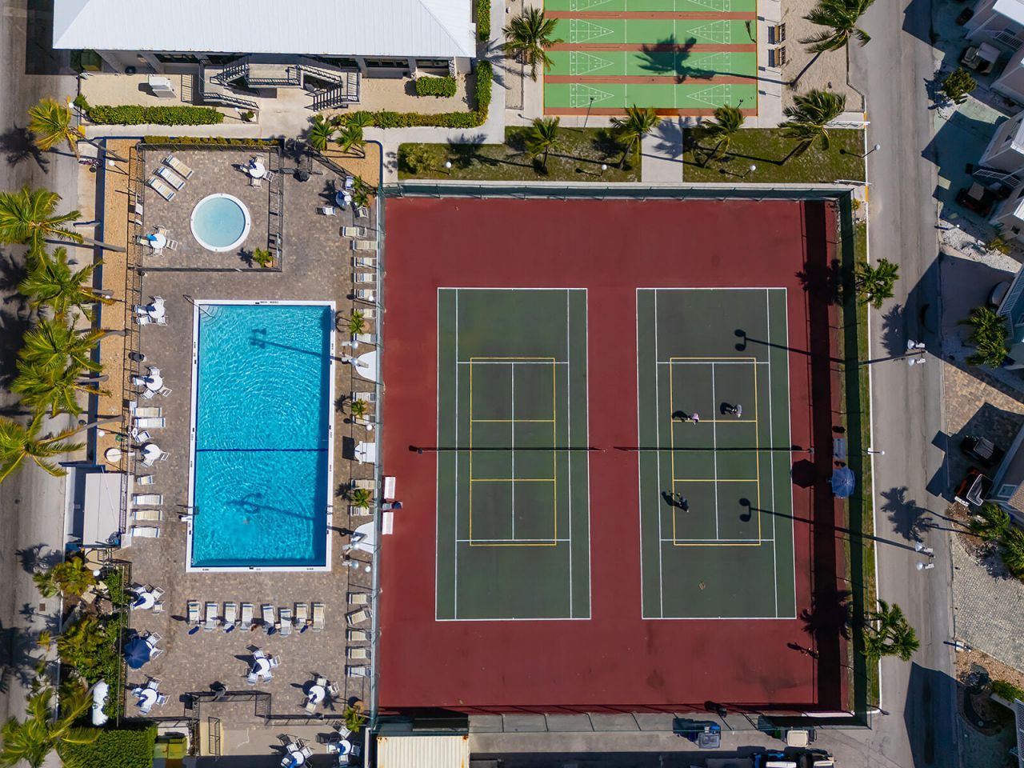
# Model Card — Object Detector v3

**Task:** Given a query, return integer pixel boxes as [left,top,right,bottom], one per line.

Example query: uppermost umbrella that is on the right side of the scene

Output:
[825,467,855,496]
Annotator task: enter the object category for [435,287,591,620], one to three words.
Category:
tennis court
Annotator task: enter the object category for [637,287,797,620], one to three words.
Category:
tennis court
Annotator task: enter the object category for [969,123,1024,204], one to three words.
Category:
house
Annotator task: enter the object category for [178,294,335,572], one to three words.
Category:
swimming pool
